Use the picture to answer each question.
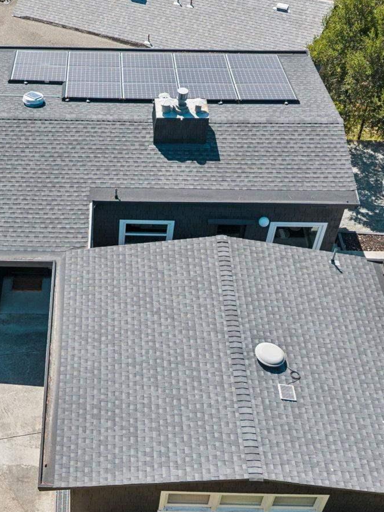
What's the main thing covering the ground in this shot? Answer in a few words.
buildings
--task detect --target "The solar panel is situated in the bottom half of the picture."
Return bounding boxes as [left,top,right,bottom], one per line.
[280,366,301,398]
